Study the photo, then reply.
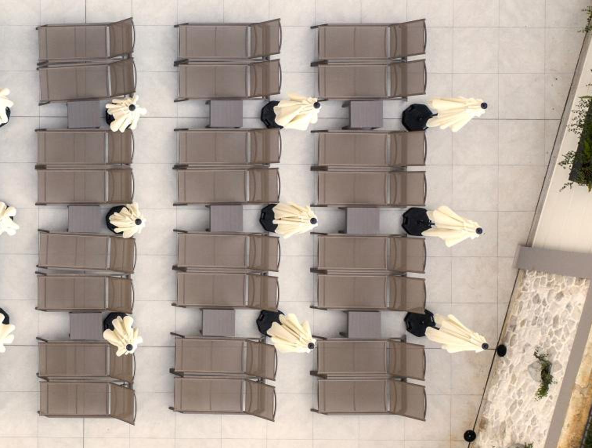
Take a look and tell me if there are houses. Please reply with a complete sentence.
No, no house can be seen from above.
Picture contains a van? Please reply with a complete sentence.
No, there is no van in the image.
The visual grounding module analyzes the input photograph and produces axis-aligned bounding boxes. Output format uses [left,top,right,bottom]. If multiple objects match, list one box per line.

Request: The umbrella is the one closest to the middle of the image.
[259,199,319,240]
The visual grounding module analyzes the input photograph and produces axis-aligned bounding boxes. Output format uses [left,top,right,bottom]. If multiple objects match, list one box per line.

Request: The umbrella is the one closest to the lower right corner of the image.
[405,311,489,352]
